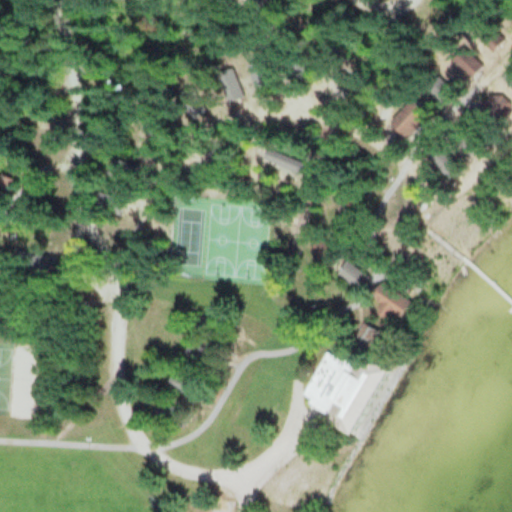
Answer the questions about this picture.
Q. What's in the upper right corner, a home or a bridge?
home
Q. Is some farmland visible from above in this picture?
No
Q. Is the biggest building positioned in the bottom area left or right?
right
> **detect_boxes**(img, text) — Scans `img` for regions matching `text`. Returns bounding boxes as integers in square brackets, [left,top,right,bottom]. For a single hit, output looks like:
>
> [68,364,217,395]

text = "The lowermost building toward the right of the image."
[304,352,388,435]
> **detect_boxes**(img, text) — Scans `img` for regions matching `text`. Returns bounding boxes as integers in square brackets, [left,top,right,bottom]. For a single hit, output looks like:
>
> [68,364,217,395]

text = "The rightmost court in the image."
[236,208,270,281]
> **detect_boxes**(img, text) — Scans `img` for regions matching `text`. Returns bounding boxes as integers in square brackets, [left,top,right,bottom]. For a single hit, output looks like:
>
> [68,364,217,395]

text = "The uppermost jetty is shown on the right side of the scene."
[428,229,512,304]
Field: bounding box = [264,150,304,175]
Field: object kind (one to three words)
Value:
building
